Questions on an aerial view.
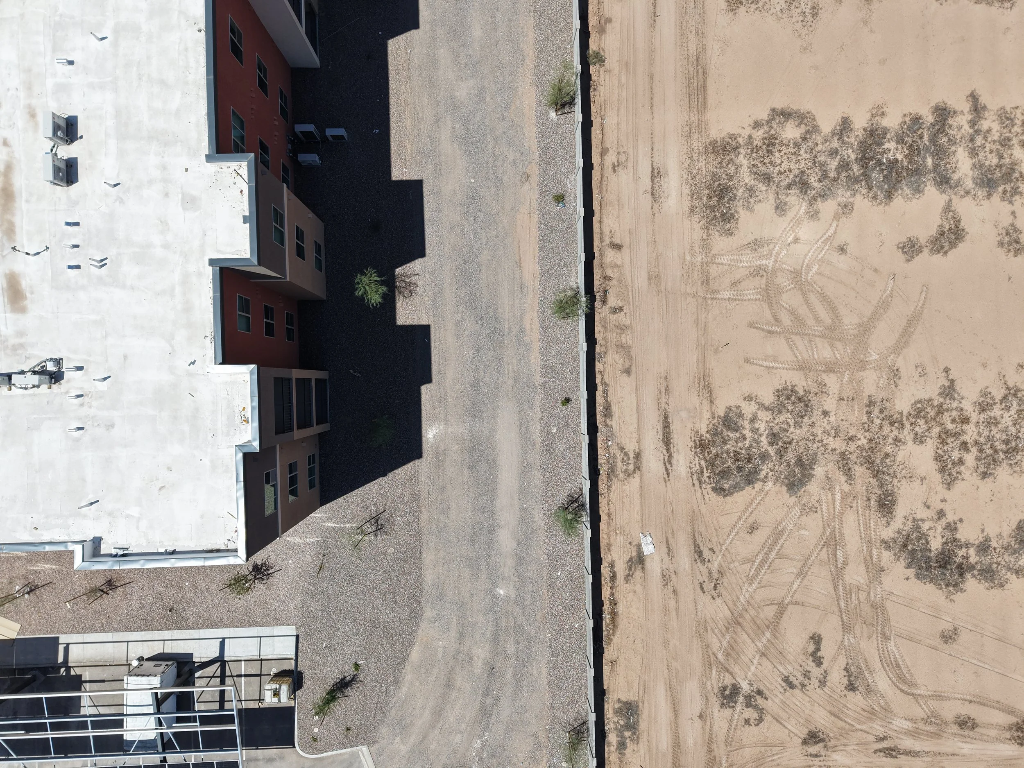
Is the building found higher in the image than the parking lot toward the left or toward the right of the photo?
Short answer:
left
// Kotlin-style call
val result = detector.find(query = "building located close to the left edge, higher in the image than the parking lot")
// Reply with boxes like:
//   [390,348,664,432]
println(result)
[0,0,330,571]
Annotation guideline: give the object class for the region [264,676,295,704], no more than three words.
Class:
water tank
